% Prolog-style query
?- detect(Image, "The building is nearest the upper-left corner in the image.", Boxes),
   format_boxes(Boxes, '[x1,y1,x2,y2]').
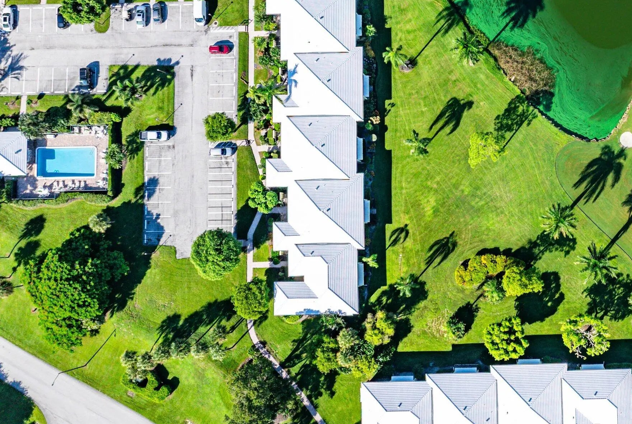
[0,132,34,176]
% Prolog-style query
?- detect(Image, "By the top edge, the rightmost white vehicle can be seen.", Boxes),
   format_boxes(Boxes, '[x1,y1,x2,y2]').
[190,0,205,26]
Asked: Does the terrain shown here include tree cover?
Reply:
Yes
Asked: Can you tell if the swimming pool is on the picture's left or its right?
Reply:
left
